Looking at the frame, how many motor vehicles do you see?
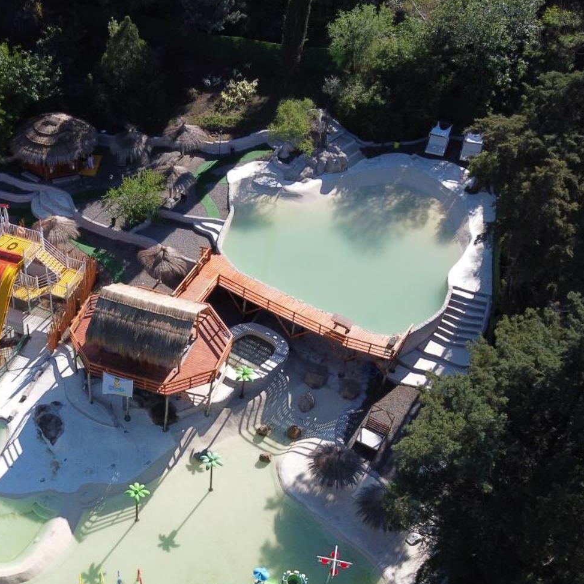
0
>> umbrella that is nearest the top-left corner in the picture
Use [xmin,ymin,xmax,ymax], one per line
[110,122,149,165]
